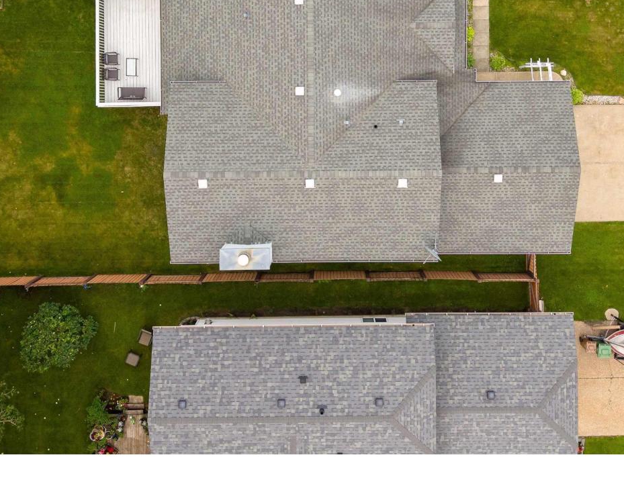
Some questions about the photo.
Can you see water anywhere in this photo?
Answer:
No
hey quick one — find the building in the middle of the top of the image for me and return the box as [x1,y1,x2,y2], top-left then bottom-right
[158,0,580,268]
